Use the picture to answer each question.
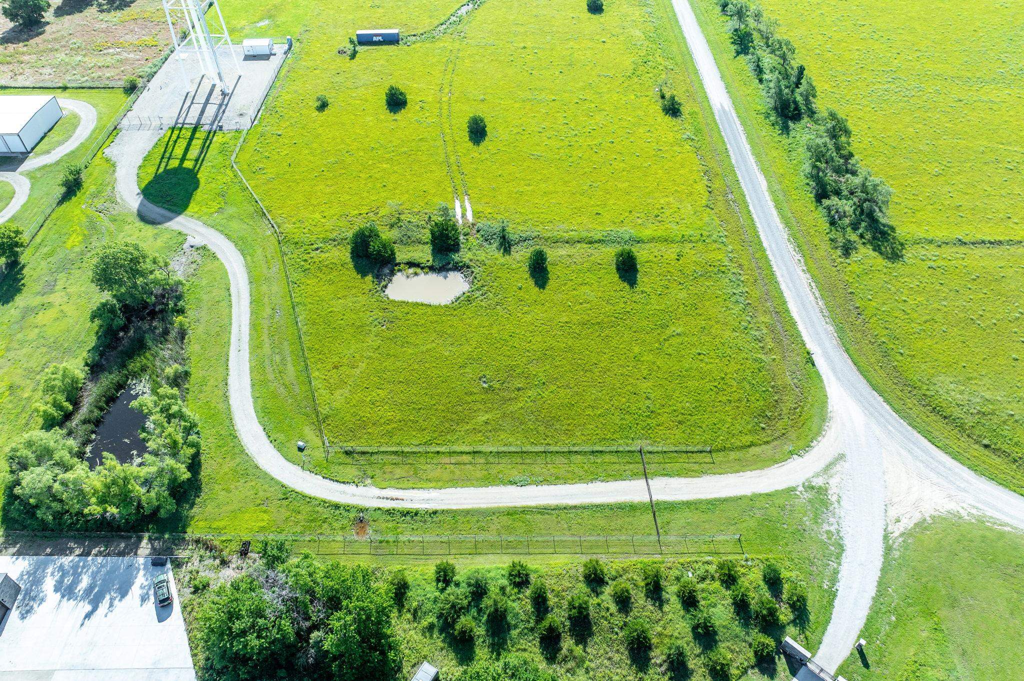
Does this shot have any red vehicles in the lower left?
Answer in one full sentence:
No, no red vehicle appears in the lower left.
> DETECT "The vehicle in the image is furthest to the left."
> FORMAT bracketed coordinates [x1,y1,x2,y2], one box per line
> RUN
[152,570,176,611]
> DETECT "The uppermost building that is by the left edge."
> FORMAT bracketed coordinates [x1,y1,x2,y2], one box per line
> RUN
[0,95,65,155]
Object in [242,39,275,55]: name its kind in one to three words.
shed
